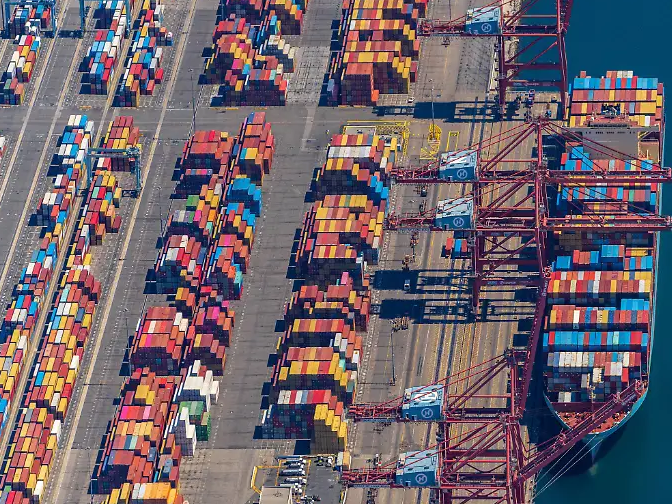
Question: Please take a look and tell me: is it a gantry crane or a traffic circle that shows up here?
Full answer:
There is a gantry crane in the scene.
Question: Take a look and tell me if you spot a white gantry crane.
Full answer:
No, I find no white gantry crane anywhere in the image.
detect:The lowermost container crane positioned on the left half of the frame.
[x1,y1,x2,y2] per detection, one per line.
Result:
[85,144,145,198]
